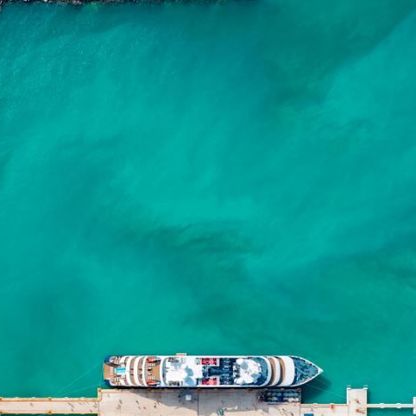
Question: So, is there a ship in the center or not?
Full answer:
No, there is no ship in the center.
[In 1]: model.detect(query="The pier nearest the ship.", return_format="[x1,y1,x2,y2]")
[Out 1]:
[98,387,302,416]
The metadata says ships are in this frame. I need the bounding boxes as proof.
[103,353,324,388]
